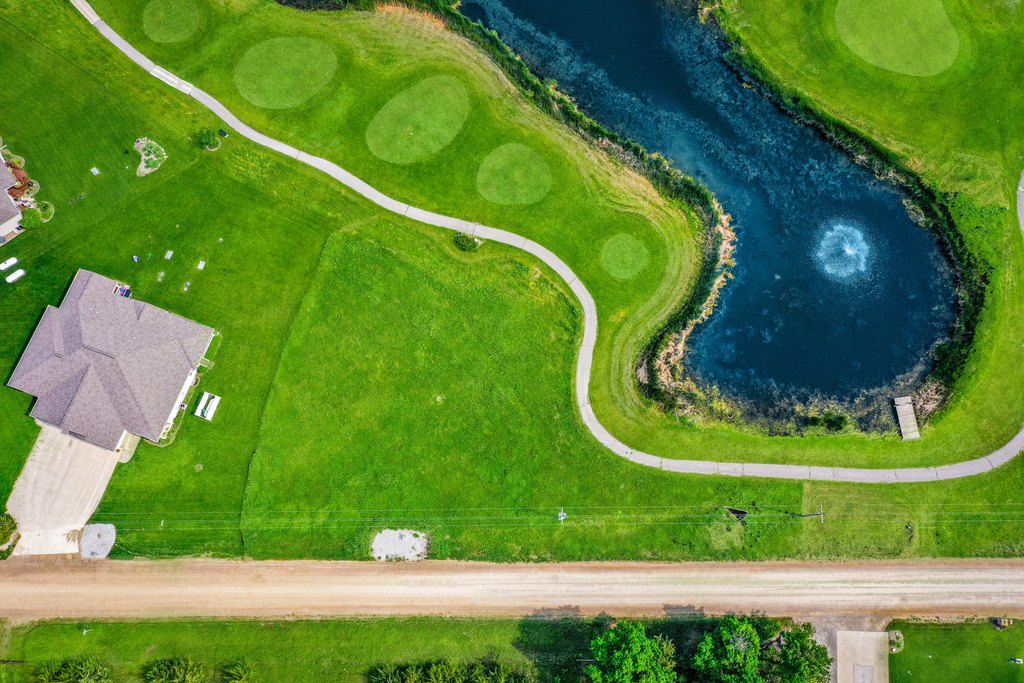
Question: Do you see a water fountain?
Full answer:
Yes, there's a water fountain down there.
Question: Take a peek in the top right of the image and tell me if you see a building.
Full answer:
No, the scene shows no building in the top right of the image.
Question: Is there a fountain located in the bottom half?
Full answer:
No, the scene shows no fountain in the bottom half.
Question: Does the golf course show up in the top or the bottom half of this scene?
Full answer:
It is in the top half that the golf course appears.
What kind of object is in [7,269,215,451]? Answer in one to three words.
house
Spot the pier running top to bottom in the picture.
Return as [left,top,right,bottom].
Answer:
[892,397,918,438]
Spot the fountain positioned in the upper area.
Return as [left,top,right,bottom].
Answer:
[797,213,889,285]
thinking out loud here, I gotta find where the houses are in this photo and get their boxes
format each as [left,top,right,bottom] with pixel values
[7,269,215,451]
[0,156,30,238]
